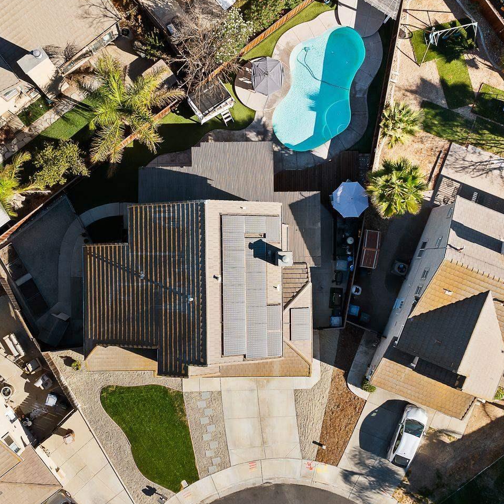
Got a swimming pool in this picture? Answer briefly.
Yes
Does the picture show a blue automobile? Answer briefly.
No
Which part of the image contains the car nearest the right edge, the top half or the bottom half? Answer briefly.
bottom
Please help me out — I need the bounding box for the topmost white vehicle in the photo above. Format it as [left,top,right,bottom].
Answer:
[387,404,427,468]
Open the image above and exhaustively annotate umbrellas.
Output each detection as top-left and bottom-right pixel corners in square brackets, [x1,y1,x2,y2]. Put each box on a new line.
[331,182,366,218]
[247,59,285,94]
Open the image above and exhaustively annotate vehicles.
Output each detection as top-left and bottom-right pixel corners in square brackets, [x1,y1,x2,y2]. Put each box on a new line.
[387,404,427,468]
[46,490,76,504]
